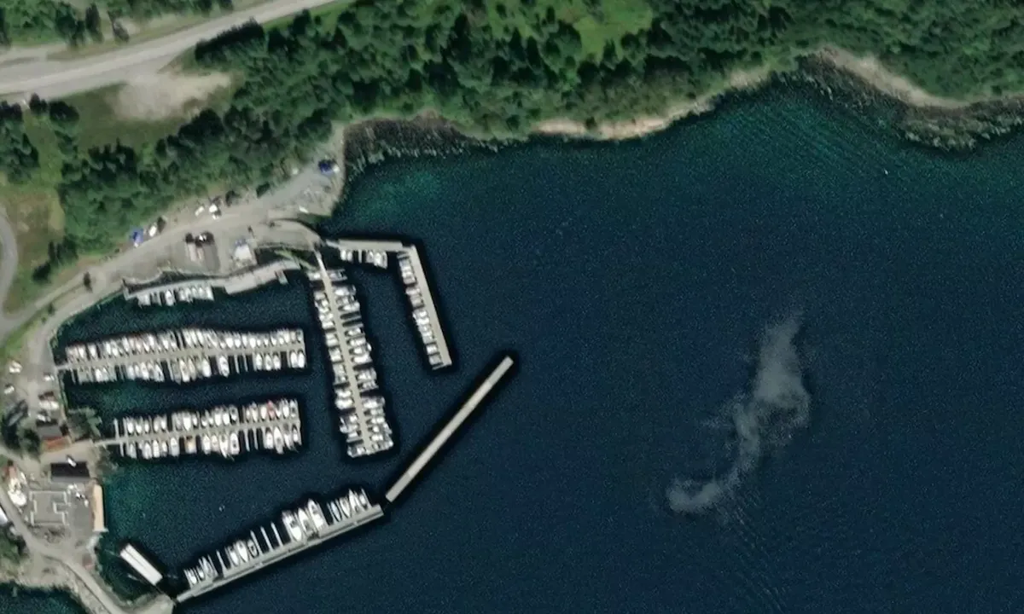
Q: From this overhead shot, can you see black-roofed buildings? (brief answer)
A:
Yes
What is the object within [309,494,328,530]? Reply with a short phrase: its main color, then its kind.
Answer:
white boat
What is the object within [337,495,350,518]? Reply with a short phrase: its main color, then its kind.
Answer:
white boat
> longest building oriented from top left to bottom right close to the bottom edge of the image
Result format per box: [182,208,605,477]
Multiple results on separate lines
[120,544,163,585]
